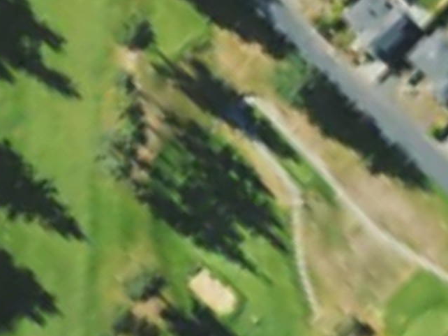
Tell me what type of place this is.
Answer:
golf course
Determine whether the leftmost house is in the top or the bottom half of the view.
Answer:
top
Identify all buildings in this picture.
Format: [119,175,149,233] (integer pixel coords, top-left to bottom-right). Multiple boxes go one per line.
[346,0,420,64]
[405,26,448,92]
